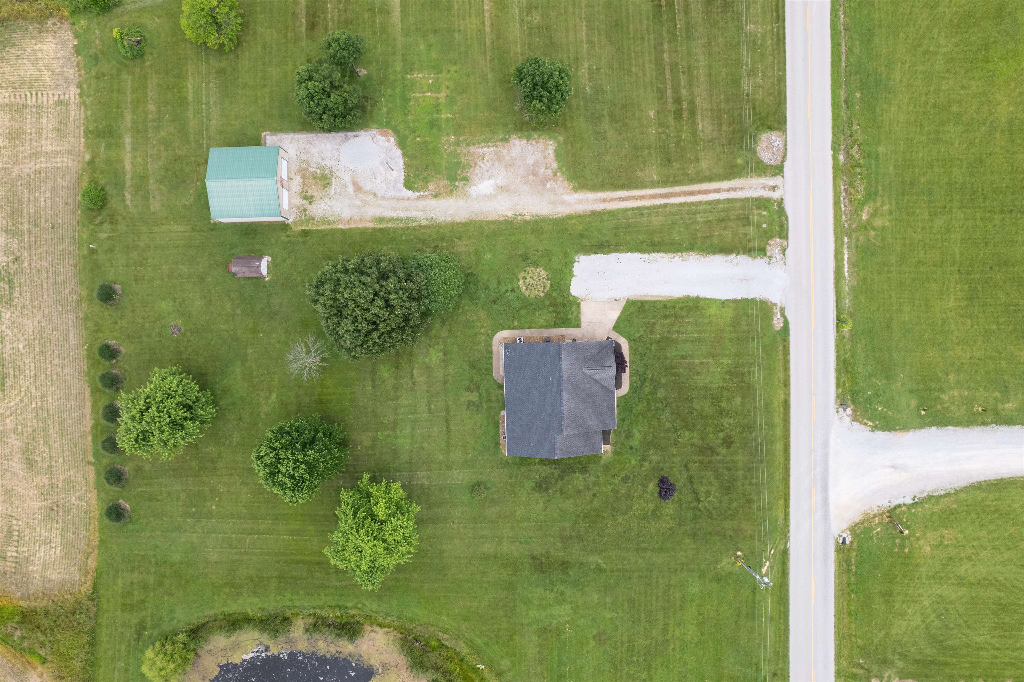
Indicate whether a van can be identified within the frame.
No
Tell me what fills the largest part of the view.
grass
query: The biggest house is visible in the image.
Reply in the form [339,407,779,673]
[497,338,619,459]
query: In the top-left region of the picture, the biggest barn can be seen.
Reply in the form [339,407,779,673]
[205,145,288,222]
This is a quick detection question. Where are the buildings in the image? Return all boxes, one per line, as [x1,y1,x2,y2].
[497,338,619,459]
[205,145,288,222]
[231,255,267,276]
